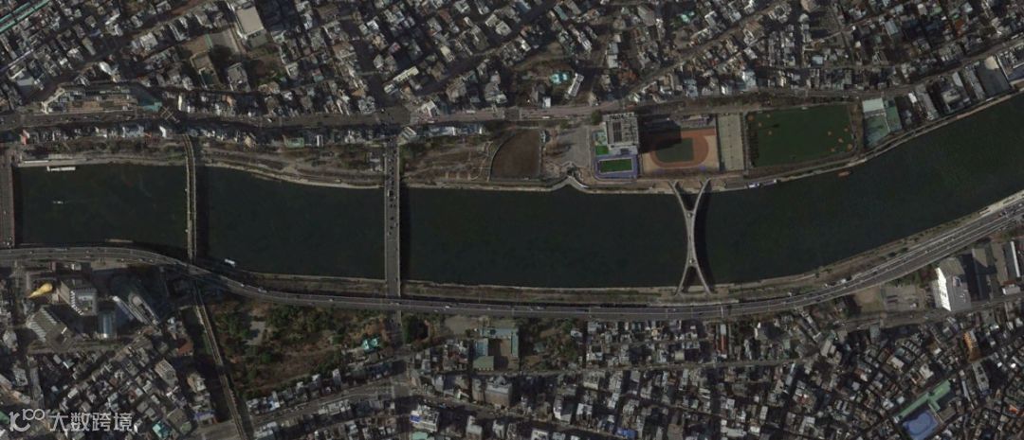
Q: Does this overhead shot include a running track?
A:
Yes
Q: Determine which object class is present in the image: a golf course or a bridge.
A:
bridge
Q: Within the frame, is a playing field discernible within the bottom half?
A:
No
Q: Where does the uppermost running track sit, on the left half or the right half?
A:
right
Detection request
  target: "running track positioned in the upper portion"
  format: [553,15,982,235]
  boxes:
[638,114,719,179]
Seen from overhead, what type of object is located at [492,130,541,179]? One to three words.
sports field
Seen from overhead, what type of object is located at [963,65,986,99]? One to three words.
building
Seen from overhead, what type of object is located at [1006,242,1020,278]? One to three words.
building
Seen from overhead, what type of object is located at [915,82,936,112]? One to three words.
shed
